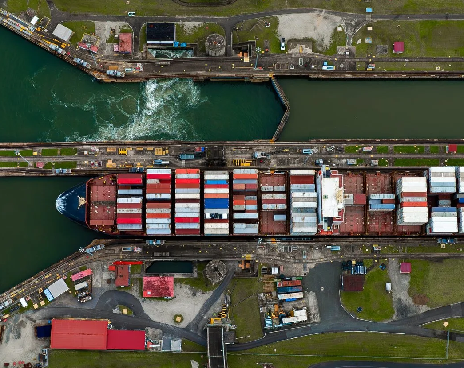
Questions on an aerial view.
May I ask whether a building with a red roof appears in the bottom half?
Yes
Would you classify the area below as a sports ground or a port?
port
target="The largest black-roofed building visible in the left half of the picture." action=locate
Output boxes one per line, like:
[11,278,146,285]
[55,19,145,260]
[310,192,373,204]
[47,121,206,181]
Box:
[146,23,175,44]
